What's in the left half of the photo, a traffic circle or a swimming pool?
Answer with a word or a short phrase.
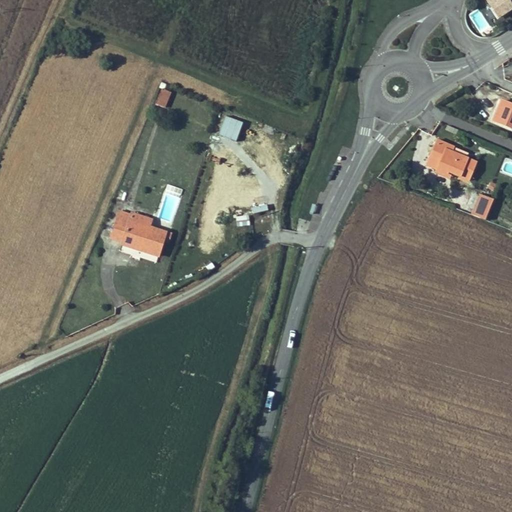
swimming pool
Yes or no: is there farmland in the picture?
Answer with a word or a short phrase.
Yes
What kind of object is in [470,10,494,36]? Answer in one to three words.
swimming pool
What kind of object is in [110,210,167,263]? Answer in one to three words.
house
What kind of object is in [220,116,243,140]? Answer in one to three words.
shed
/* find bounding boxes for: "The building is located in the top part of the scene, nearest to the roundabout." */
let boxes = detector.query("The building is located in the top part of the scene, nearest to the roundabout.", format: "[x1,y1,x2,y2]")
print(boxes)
[427,138,478,182]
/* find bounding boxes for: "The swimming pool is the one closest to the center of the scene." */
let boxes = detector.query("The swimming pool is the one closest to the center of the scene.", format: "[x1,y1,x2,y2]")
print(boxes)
[158,184,184,228]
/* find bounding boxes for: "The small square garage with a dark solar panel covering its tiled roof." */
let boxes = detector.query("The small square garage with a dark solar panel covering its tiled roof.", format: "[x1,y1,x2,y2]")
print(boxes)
[472,194,495,218]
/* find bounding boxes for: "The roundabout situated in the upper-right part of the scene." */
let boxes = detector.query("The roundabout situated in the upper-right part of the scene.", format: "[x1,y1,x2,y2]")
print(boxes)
[360,50,434,125]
